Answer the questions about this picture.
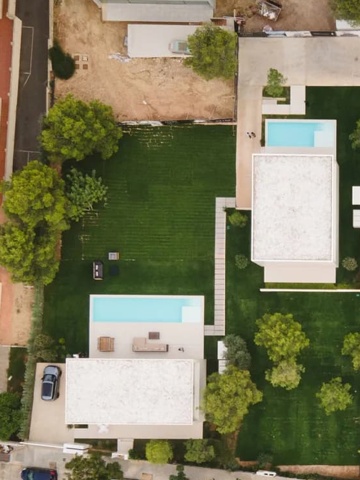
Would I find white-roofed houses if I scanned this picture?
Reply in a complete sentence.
Yes, a white-roofed house appears in the view.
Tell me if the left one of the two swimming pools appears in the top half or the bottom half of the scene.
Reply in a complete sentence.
The left one of the two swimming pools sits in the bottom half of the picture.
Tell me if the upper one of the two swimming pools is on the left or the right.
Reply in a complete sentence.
The upper one of the two swimming pools sits on the right side.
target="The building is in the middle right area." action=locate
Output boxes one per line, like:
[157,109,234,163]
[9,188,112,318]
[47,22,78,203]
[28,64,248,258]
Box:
[252,155,341,267]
